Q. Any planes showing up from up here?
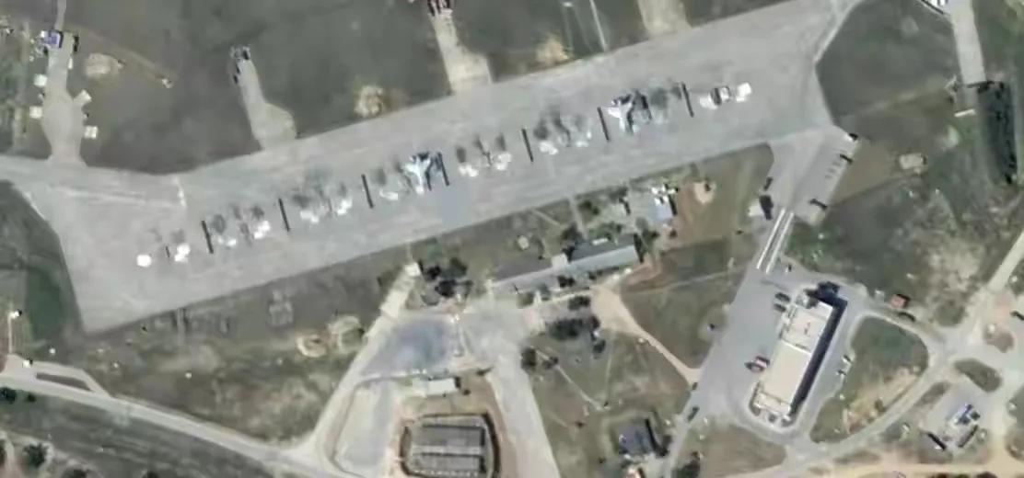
Yes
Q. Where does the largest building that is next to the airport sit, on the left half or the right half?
right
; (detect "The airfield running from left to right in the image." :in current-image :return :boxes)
[0,0,867,333]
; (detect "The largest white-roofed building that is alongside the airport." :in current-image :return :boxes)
[752,289,834,417]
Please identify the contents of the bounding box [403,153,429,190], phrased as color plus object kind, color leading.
white airplane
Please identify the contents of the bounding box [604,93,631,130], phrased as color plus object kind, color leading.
white airplane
